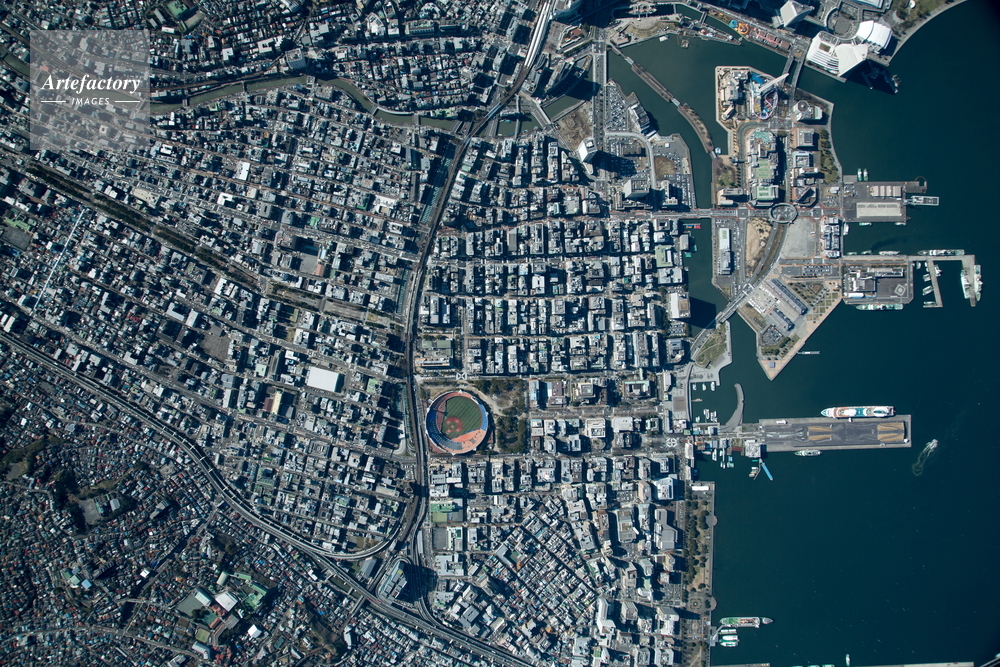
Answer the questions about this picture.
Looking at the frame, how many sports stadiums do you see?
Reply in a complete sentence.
In total, 1 sports stadium can be seen.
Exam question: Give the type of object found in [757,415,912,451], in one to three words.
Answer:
pier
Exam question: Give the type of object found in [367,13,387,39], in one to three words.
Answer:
building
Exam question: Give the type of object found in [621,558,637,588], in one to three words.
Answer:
building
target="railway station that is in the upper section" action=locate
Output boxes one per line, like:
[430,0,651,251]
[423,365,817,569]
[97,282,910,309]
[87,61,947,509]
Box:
[524,0,555,67]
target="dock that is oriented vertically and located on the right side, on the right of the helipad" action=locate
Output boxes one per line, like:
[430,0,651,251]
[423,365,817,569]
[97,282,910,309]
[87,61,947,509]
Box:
[923,261,943,307]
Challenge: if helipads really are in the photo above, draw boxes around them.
[892,281,908,298]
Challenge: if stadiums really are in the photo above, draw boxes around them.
[424,391,489,457]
